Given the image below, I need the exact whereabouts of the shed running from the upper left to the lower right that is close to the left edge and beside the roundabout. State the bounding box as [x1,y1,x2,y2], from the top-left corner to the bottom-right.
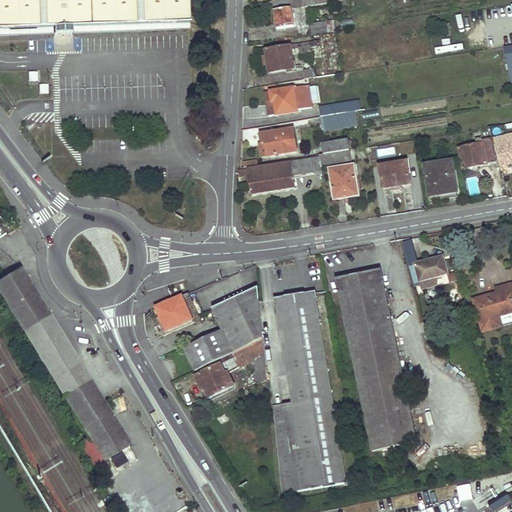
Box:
[0,266,128,460]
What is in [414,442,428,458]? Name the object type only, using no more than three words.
vehicle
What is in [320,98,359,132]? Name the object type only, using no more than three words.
shed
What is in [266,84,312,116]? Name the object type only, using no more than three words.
house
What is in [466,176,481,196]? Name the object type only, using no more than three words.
swimming pool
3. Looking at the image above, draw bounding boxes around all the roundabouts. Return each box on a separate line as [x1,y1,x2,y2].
[48,208,196,319]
